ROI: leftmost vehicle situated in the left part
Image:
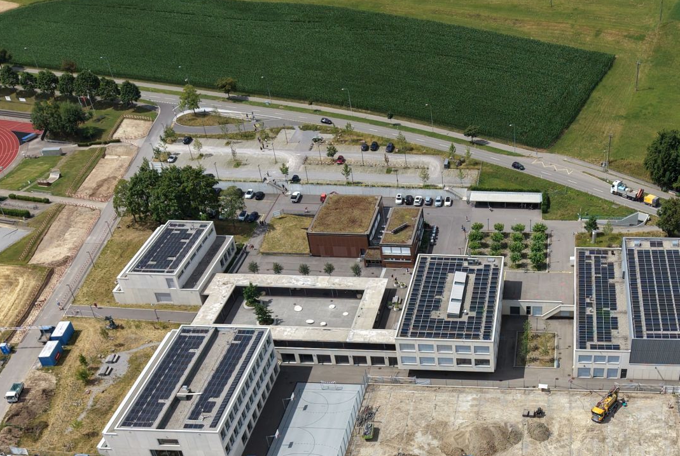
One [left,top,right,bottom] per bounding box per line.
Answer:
[1,377,23,396]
